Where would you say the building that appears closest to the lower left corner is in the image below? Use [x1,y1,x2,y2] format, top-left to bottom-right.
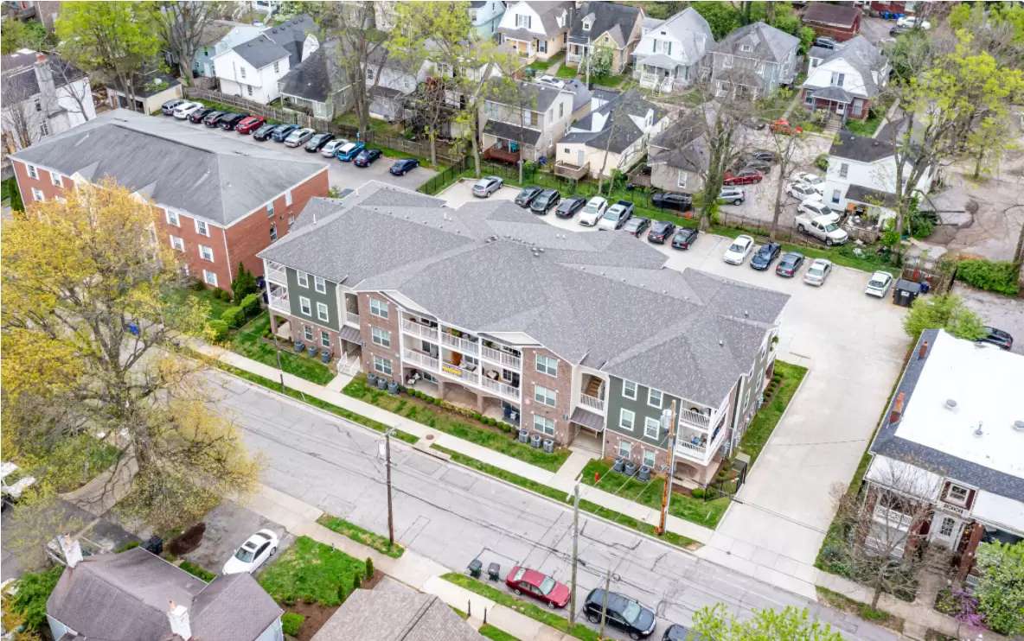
[39,542,284,641]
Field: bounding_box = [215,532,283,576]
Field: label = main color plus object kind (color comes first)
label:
white car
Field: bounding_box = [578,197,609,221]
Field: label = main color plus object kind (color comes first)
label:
white car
